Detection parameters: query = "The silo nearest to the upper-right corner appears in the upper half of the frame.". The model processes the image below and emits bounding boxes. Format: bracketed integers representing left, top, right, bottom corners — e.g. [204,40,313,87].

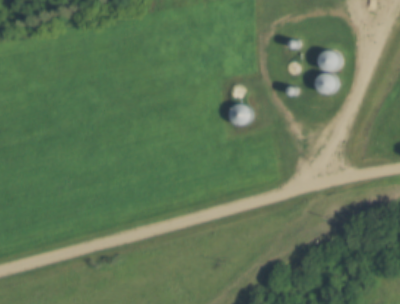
[318,49,344,72]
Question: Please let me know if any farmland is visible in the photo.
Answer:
Yes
